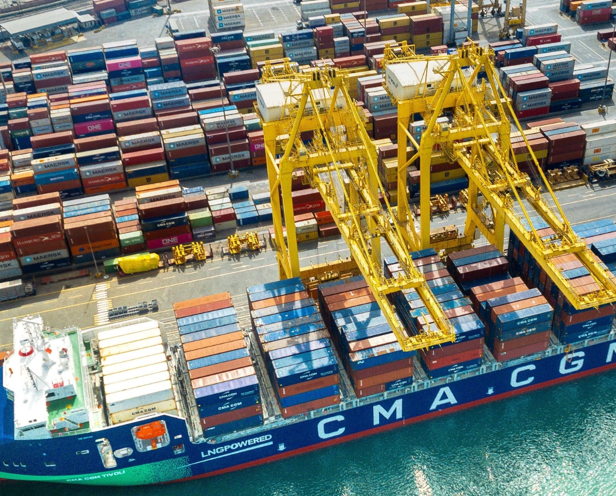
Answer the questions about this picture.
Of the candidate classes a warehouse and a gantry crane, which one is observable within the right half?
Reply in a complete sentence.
What appears within the right half is a gantry crane.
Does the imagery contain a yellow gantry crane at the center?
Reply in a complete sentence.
Yes, there is a yellow gantry crane at the center.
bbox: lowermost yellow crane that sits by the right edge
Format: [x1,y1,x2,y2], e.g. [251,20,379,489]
[381,28,616,319]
